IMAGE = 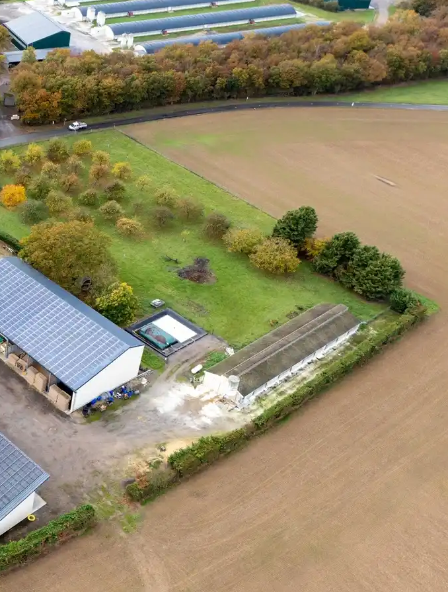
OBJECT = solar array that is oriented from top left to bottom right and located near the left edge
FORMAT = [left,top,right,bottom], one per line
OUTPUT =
[0,258,124,388]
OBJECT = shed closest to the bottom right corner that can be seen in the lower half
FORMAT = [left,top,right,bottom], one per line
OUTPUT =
[199,303,363,409]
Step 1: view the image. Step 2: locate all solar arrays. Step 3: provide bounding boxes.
[0,433,45,509]
[0,258,124,388]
